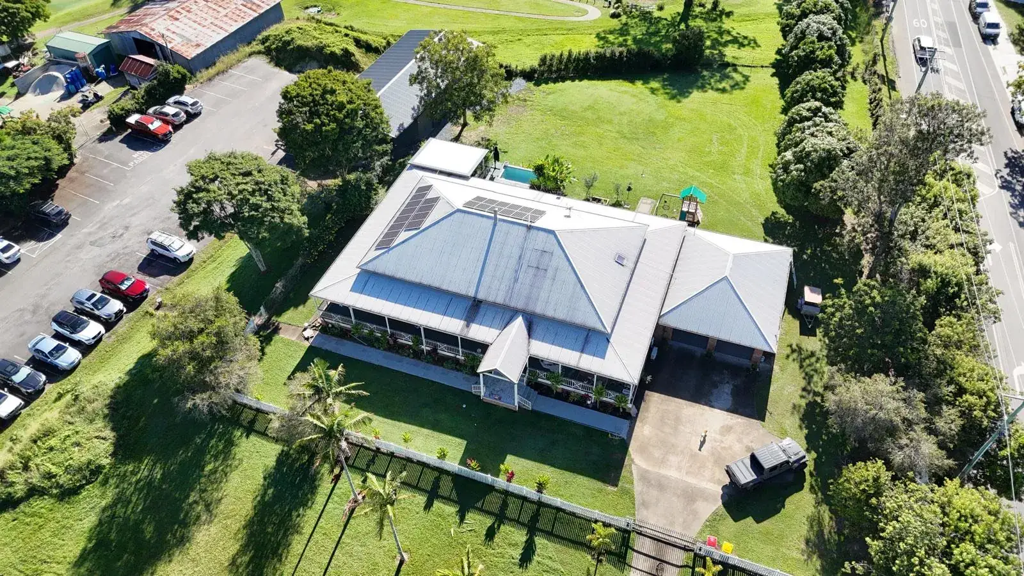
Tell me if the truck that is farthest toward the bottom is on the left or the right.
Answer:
right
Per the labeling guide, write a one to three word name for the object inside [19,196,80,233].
car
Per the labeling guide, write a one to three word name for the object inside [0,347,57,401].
car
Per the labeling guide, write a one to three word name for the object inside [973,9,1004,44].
van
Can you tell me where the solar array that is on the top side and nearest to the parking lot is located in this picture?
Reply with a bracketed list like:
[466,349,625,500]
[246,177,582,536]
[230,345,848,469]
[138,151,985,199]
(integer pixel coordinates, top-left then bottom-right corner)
[373,185,442,251]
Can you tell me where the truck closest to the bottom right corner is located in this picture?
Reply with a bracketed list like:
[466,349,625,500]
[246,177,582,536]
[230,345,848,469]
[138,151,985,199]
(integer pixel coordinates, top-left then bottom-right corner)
[721,439,816,496]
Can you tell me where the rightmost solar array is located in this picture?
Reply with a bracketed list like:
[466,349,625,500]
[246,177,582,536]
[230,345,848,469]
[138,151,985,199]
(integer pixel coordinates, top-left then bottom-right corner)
[460,197,545,223]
